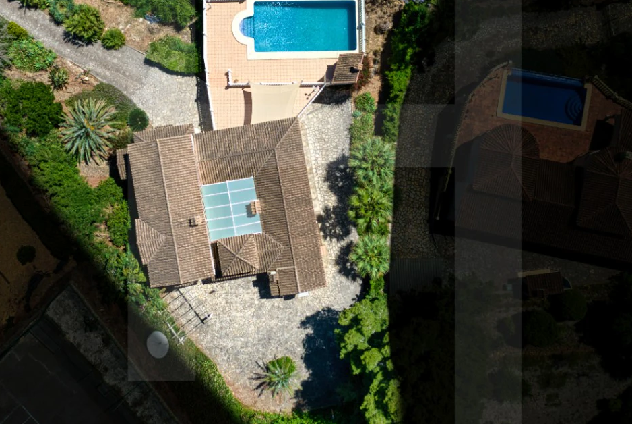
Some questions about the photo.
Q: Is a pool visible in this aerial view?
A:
Yes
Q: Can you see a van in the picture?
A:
No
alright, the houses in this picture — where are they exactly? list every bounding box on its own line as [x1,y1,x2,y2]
[453,109,632,271]
[115,117,327,298]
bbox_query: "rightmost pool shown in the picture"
[498,69,594,131]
